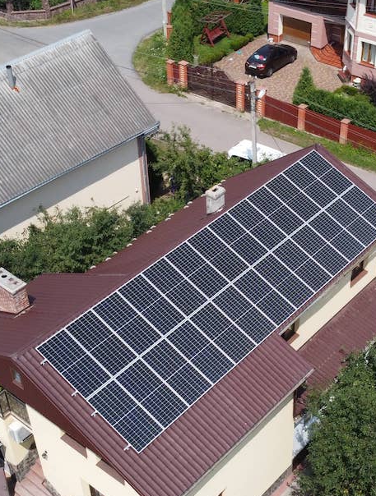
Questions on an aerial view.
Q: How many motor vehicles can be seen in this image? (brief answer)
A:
2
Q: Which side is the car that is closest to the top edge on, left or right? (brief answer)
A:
right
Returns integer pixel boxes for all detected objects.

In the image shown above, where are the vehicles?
[220,140,289,169]
[241,37,300,74]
